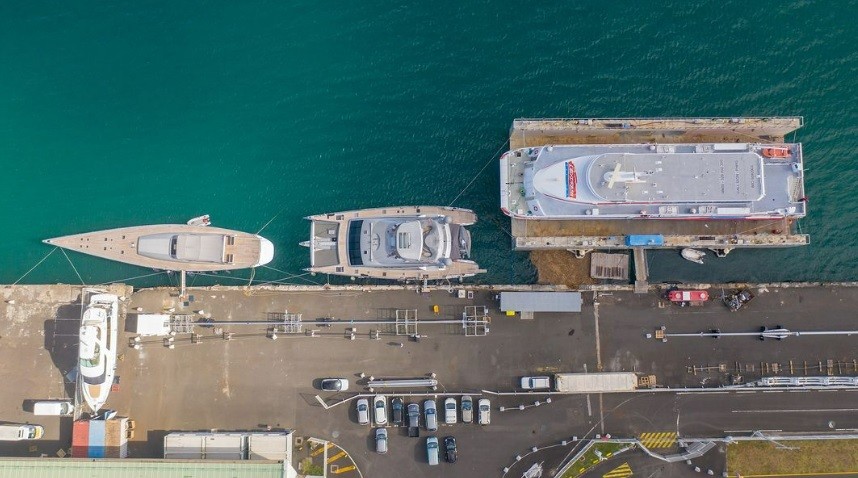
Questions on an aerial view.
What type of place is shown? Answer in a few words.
port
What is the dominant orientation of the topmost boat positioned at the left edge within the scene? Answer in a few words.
from left to right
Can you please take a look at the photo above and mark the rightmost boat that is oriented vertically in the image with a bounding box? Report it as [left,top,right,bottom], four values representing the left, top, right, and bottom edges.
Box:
[457,226,471,259]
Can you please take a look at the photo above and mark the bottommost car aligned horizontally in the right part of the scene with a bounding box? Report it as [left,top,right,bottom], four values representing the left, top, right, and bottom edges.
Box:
[520,377,550,391]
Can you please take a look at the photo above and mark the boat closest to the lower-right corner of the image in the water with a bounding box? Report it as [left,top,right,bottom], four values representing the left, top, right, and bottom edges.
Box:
[682,248,708,265]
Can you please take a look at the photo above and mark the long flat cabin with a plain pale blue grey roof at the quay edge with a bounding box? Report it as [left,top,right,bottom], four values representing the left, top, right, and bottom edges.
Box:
[496,292,583,312]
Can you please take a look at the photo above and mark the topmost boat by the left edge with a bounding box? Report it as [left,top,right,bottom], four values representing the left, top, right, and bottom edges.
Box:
[41,224,274,275]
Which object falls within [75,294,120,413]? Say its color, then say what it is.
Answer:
white boat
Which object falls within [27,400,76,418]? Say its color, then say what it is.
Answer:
white vehicle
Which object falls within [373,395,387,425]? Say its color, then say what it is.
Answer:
white car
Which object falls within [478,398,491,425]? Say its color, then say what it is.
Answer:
white vehicle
